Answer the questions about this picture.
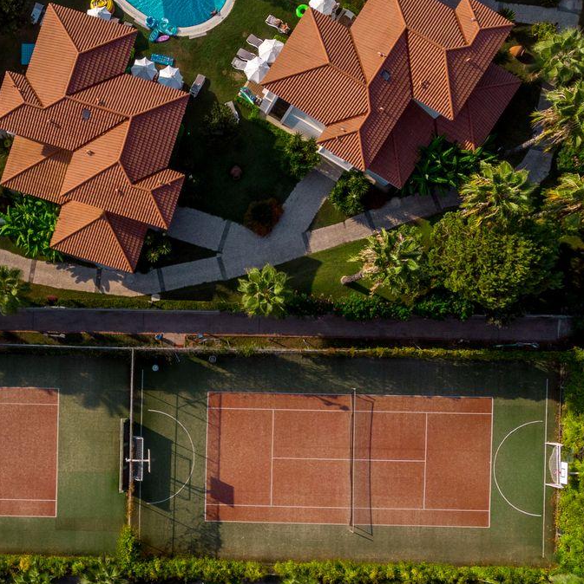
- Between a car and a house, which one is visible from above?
house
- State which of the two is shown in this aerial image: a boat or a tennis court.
tennis court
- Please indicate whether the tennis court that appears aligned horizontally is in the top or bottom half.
bottom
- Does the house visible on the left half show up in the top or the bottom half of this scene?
top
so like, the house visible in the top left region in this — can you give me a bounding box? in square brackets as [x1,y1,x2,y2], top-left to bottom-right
[0,1,192,273]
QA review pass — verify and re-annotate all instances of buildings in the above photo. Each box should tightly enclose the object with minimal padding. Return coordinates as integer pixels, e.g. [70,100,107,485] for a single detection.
[0,1,192,273]
[261,0,523,206]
